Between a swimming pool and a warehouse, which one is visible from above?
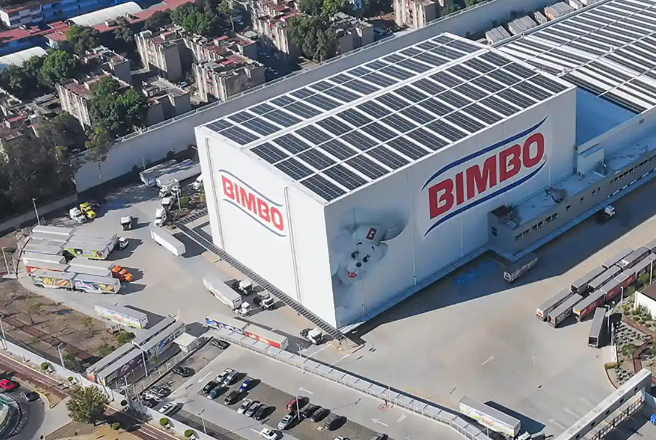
warehouse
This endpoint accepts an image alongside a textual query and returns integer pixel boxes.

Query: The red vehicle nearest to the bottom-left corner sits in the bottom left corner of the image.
[0,377,18,393]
